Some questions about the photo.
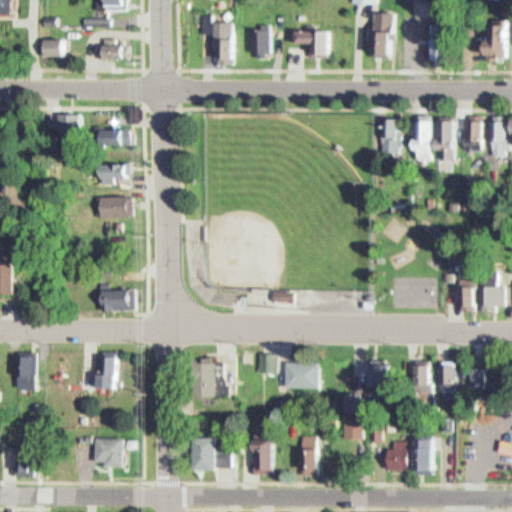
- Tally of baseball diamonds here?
1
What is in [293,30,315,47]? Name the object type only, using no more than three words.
building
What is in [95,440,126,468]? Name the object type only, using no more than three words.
house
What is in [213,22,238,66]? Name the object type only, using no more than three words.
house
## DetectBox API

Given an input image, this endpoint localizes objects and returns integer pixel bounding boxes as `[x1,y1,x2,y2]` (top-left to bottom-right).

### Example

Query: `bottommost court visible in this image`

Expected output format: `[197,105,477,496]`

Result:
[394,278,438,308]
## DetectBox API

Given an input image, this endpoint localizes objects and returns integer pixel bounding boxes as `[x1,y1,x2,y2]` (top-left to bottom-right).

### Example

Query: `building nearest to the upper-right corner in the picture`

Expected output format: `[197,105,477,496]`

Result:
[480,23,508,60]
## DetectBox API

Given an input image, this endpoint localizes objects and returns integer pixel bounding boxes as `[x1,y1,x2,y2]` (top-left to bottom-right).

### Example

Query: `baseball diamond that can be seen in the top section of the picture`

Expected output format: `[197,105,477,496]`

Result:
[206,113,371,288]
